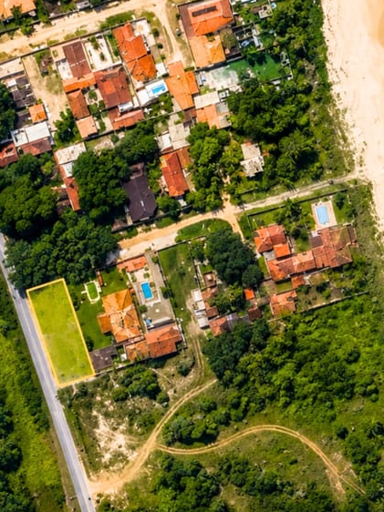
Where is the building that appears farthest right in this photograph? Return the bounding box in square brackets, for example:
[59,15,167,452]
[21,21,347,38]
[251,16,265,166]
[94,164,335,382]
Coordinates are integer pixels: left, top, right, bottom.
[310,224,358,269]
